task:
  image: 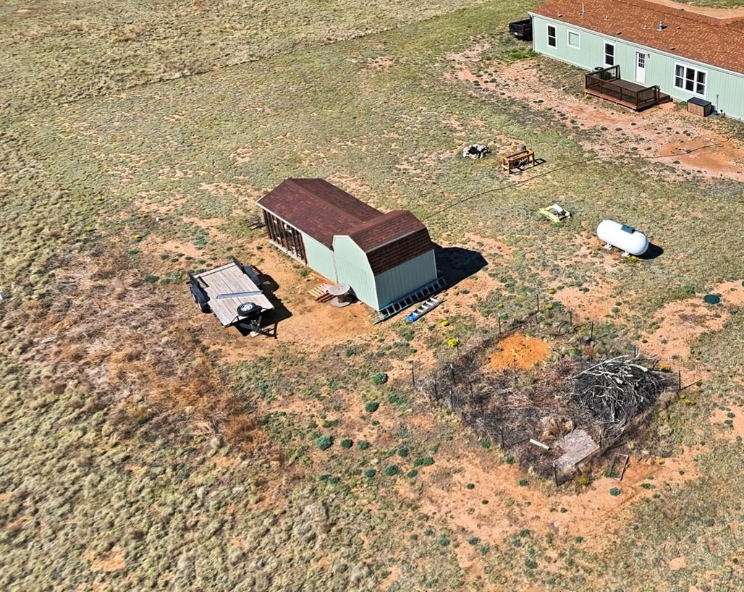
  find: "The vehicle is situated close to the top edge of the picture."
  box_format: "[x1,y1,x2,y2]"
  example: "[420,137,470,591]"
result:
[510,20,531,42]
